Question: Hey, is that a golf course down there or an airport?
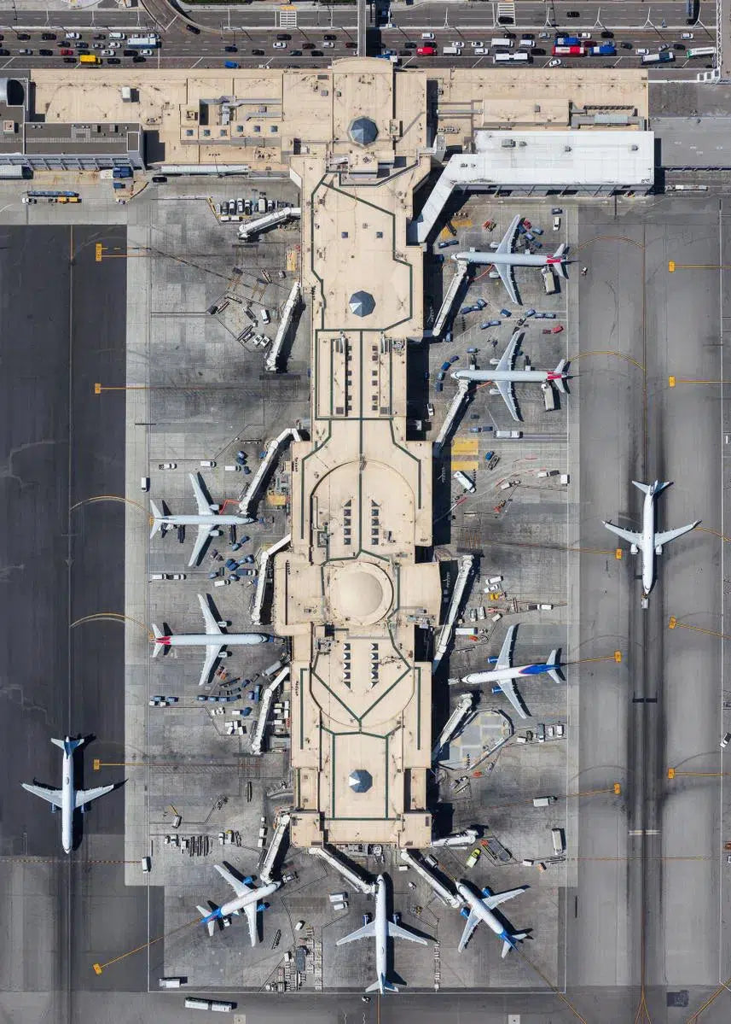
airport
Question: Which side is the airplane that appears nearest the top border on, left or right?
right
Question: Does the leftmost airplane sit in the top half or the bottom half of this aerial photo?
bottom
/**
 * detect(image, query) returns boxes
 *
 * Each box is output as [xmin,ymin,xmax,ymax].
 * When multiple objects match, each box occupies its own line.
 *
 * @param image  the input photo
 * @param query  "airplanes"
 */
[604,480,699,594]
[148,593,269,684]
[461,624,565,718]
[451,215,570,304]
[195,867,281,947]
[337,874,427,996]
[150,471,255,564]
[20,737,112,854]
[455,879,530,961]
[451,331,570,421]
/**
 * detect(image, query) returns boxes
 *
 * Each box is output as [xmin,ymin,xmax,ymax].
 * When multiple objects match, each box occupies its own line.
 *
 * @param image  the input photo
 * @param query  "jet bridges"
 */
[265,282,302,377]
[431,260,469,337]
[310,848,378,893]
[237,207,301,245]
[251,663,291,757]
[238,425,305,518]
[432,691,474,758]
[399,848,468,905]
[432,830,482,847]
[251,531,292,628]
[433,378,469,450]
[264,810,290,886]
[432,553,474,671]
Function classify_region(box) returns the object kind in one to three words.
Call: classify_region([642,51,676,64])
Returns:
vehicle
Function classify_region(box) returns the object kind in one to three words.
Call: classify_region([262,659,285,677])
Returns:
vehicle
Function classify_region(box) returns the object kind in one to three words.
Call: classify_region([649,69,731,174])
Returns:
building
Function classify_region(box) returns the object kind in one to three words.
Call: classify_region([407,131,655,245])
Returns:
building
